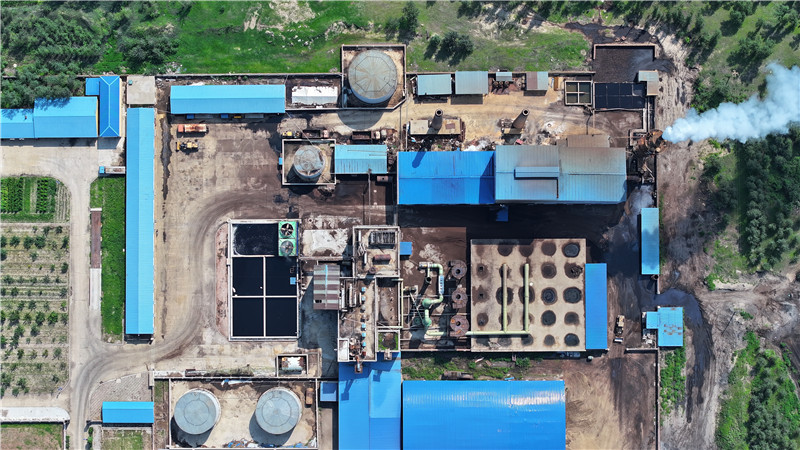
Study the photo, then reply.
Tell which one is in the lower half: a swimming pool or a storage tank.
storage tank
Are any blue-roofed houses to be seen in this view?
Yes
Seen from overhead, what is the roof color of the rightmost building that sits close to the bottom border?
blue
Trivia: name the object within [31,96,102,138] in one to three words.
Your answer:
shed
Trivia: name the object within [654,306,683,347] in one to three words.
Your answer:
house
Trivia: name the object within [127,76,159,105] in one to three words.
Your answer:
building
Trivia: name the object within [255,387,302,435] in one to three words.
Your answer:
storage tank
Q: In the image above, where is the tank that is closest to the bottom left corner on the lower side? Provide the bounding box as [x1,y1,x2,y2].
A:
[173,386,223,434]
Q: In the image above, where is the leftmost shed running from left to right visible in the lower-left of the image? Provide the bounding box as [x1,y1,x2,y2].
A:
[100,400,157,424]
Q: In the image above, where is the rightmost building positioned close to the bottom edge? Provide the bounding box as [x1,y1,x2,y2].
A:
[403,379,567,450]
